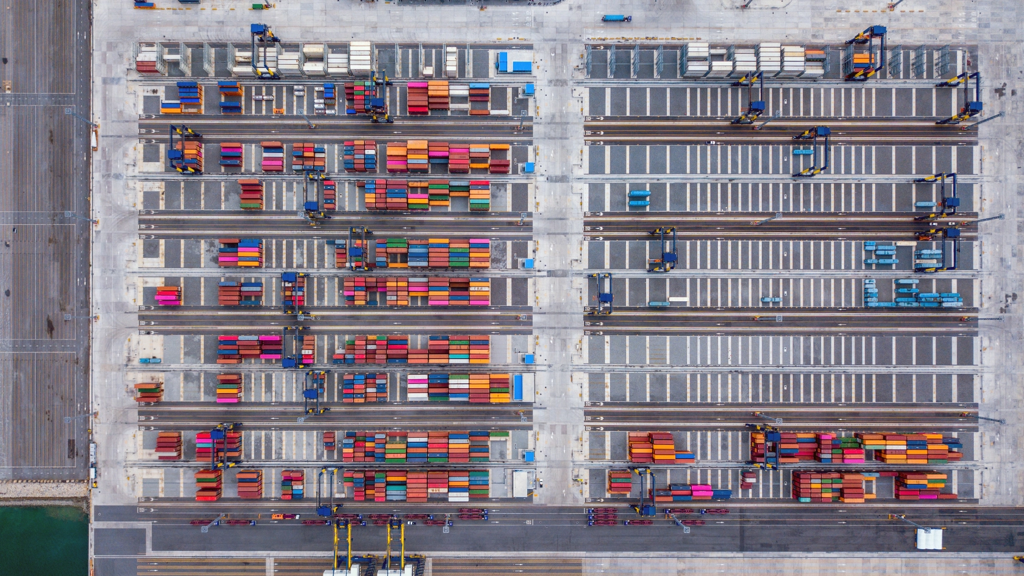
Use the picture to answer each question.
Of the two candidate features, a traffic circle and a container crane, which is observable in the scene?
container crane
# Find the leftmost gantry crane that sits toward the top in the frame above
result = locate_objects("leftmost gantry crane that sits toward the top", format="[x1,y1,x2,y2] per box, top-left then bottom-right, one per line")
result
[167,126,202,177]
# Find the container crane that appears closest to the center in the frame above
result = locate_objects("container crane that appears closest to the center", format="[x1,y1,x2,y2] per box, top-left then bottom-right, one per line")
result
[586,271,614,316]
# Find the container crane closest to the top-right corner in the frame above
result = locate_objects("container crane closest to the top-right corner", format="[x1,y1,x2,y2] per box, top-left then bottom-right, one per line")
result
[936,71,983,125]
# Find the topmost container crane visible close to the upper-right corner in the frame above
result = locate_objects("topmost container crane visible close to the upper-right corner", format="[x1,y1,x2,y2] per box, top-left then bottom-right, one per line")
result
[845,25,887,81]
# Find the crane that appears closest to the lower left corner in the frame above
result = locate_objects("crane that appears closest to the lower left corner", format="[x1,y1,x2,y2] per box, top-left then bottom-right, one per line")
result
[209,422,243,471]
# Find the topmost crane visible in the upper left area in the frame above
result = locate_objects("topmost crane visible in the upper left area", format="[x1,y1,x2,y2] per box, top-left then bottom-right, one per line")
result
[249,24,281,80]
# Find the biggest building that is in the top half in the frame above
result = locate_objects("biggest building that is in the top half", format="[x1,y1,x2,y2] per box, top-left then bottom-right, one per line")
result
[497,52,534,73]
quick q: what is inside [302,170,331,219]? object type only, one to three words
container crane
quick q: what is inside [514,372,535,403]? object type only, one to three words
building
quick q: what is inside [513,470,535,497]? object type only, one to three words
shed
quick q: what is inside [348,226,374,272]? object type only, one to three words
container crane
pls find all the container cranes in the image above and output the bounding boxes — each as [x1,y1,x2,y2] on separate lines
[302,369,331,415]
[936,71,983,125]
[731,71,766,125]
[845,25,887,81]
[167,126,202,177]
[280,326,310,371]
[322,521,382,576]
[745,424,781,472]
[792,126,831,178]
[249,24,281,80]
[376,521,429,576]
[348,226,374,272]
[281,270,311,315]
[369,70,395,124]
[915,227,960,274]
[647,227,678,273]
[915,172,960,221]
[209,422,243,471]
[302,170,331,219]
[627,466,658,517]
[586,271,614,316]
[316,465,344,516]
